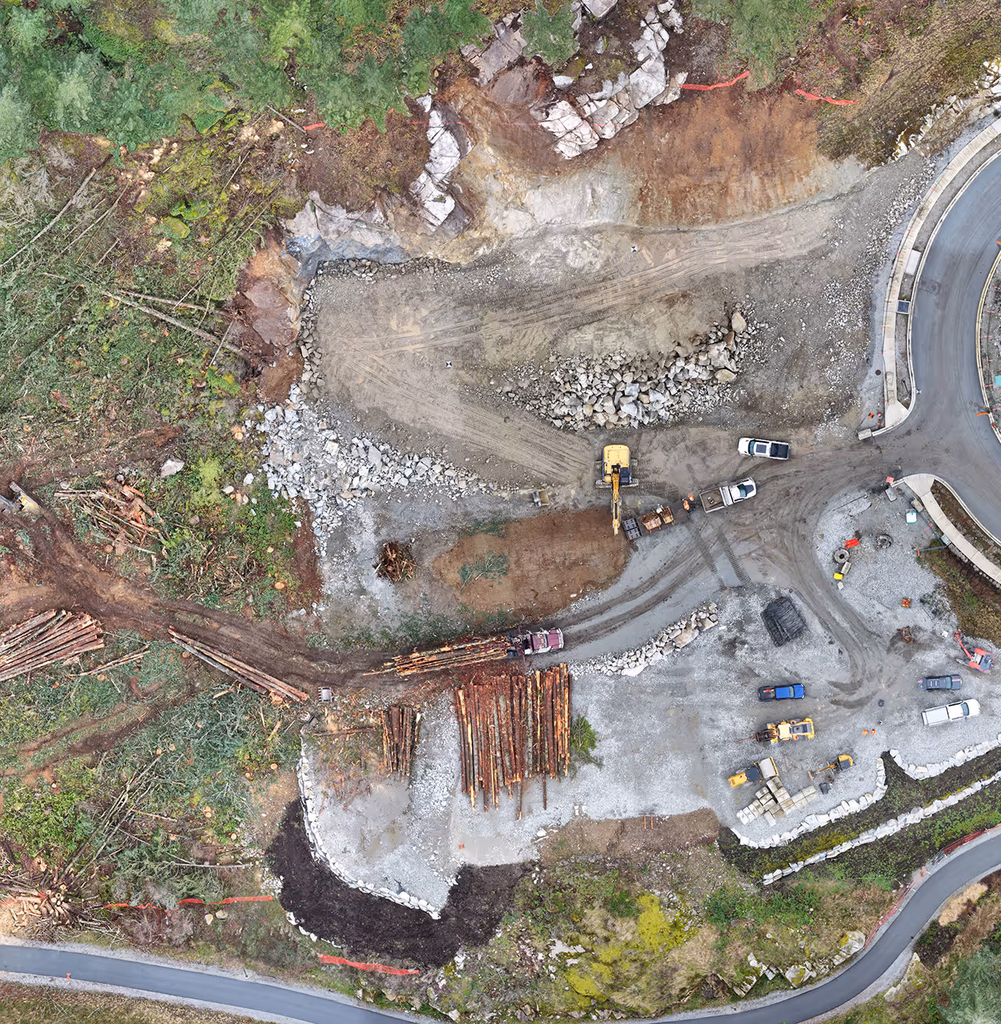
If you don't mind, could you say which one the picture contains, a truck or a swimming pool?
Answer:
truck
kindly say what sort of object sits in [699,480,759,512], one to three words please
truck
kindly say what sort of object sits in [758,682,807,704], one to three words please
truck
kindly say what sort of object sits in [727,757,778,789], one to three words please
work vehicle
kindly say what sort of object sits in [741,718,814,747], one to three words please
work vehicle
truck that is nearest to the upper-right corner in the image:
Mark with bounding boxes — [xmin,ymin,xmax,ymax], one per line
[738,436,791,459]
